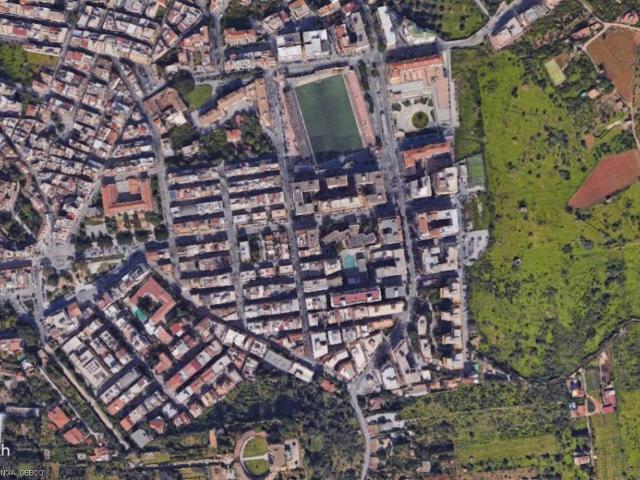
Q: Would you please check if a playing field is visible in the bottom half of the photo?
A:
No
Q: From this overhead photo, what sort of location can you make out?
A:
residential area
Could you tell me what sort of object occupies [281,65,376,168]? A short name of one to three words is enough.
sports field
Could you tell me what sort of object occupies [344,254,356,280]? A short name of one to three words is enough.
swimming pool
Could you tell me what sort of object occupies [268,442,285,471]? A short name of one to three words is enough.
house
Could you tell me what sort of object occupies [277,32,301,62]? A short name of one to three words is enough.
building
